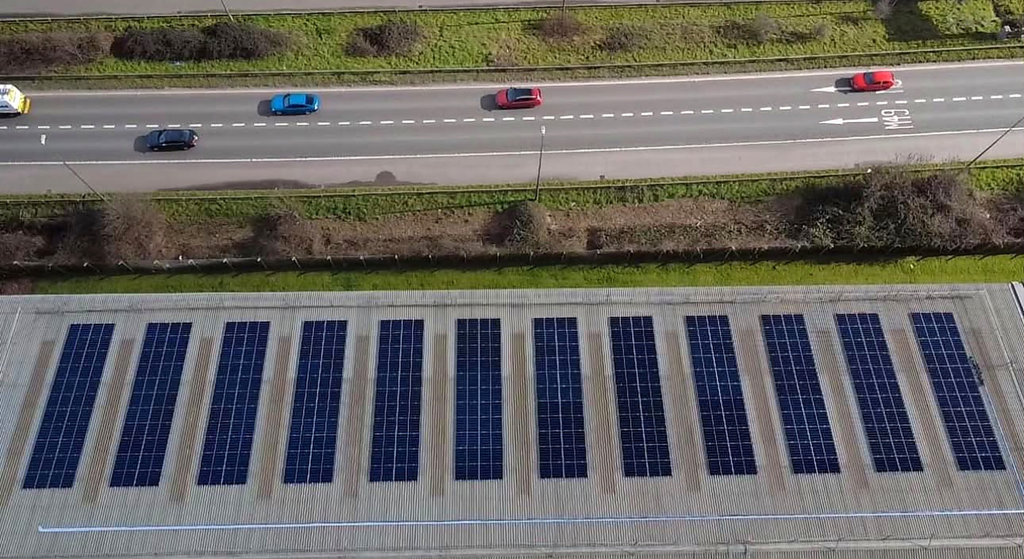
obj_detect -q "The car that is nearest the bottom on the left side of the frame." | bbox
[143,127,201,150]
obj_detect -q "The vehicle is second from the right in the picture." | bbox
[492,84,543,108]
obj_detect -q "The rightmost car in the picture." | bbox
[846,70,894,91]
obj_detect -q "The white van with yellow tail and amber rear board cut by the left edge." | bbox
[0,88,34,117]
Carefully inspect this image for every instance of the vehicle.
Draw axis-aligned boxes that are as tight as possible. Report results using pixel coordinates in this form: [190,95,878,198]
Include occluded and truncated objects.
[269,91,321,113]
[0,88,34,117]
[143,127,201,150]
[846,70,894,91]
[492,84,543,108]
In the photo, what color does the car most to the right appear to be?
red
